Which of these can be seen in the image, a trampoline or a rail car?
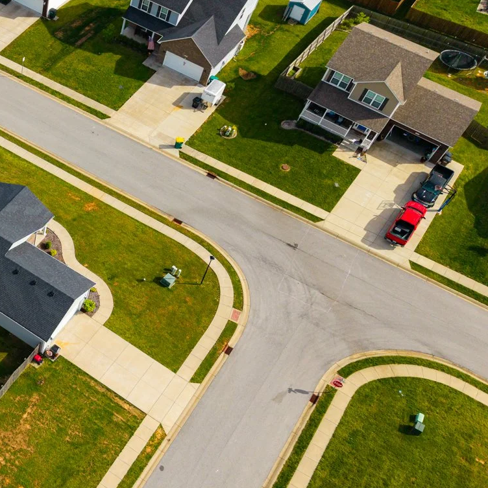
trampoline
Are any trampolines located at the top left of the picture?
No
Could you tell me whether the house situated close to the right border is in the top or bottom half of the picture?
top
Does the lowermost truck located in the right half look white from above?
No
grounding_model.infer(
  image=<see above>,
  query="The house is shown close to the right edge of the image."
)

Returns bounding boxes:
[301,23,481,162]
